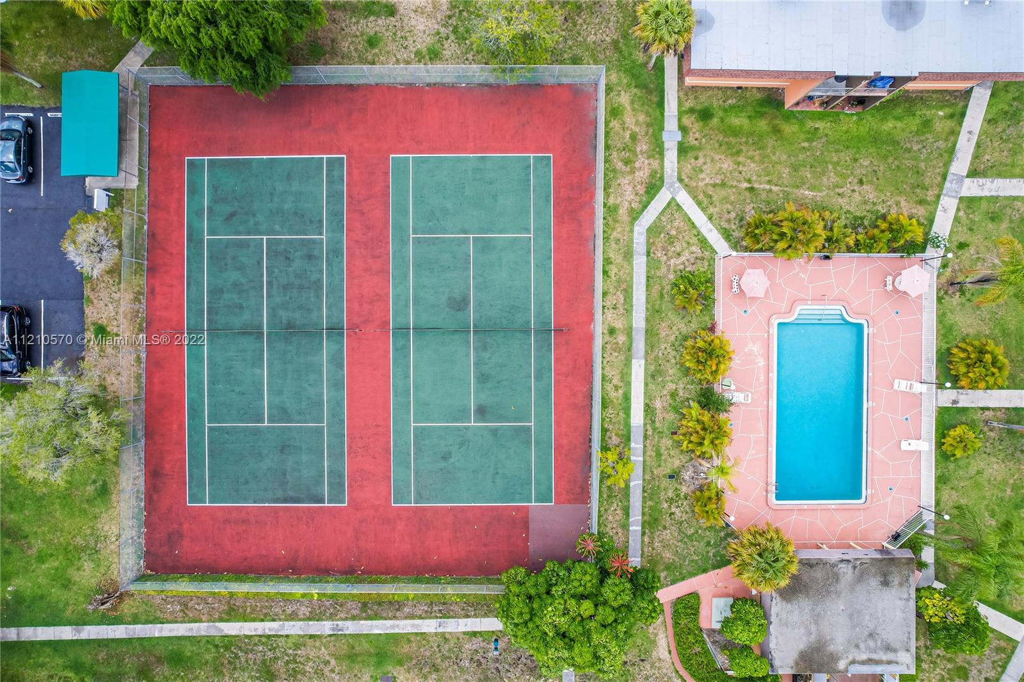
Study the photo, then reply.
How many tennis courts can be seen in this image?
two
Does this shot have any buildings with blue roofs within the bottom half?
No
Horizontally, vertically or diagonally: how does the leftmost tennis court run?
vertically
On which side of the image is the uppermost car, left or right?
left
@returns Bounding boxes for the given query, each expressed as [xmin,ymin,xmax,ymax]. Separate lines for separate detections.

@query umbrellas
[737,269,769,297]
[892,264,926,297]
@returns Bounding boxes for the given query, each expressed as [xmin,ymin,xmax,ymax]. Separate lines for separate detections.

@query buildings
[683,0,1024,109]
[760,541,915,674]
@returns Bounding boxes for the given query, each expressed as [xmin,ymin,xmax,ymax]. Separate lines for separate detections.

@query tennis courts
[185,155,347,506]
[390,154,554,506]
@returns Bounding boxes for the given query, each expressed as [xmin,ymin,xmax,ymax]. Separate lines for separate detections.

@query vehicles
[0,115,34,184]
[0,304,32,376]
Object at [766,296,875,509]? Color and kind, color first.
blue swimming pool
